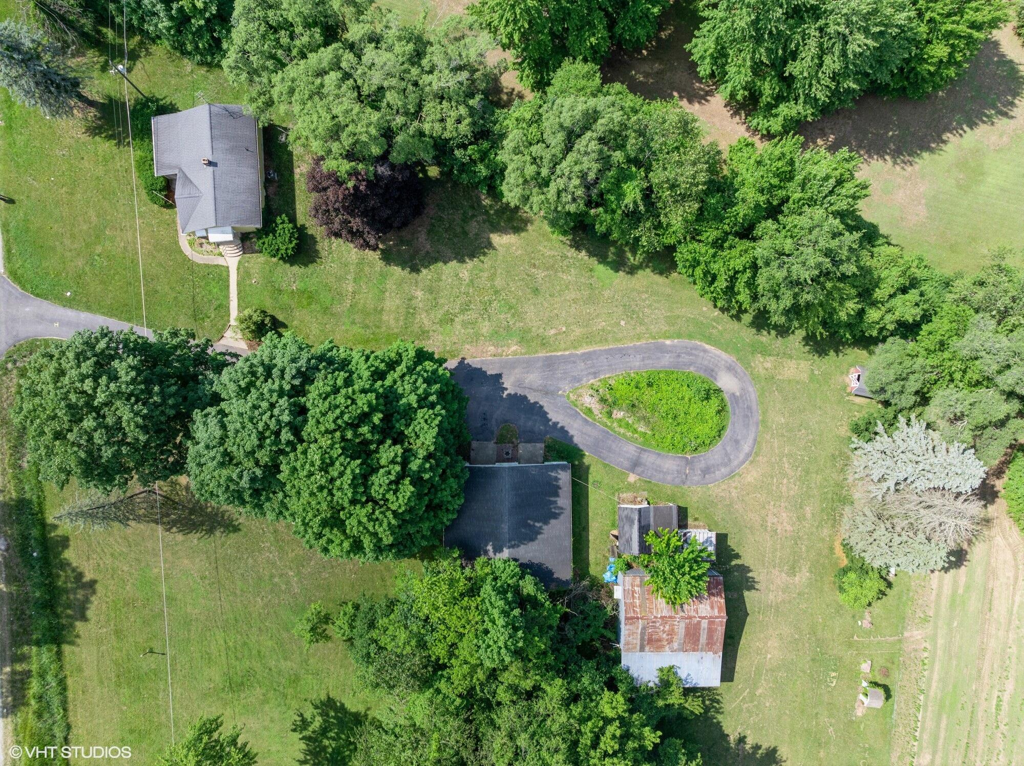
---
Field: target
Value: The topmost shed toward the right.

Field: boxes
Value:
[854,365,894,399]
